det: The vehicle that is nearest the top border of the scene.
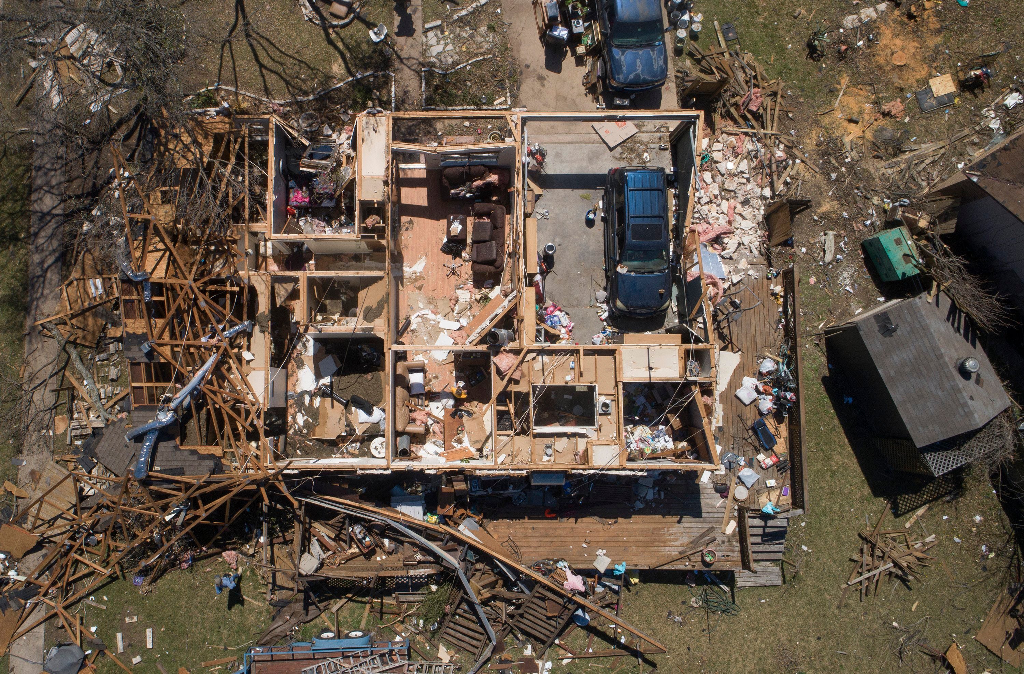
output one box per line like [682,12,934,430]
[606,0,673,98]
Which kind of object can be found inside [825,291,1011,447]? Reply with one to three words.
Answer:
shed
